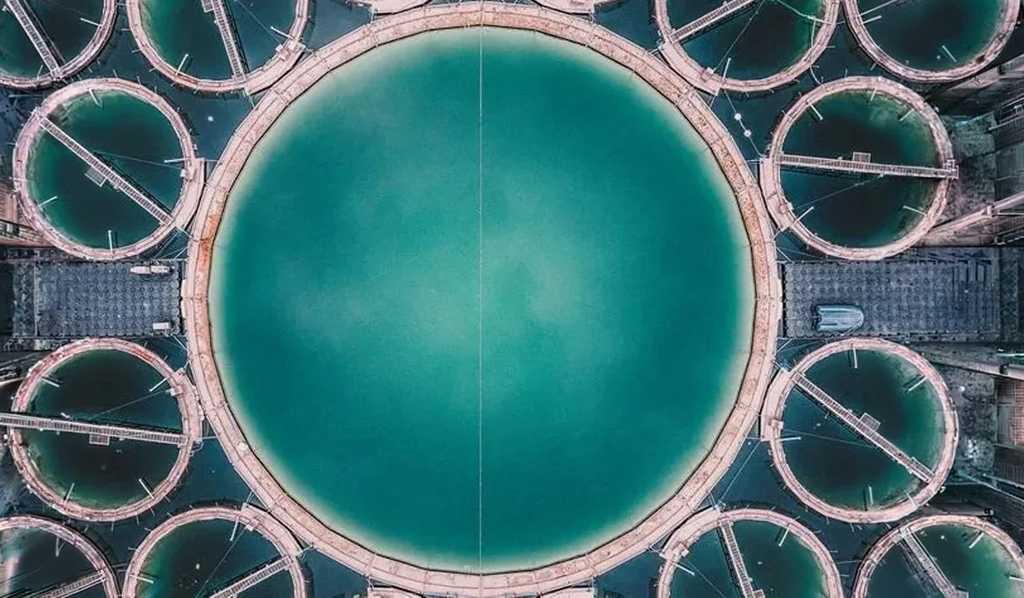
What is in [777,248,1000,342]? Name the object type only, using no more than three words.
pier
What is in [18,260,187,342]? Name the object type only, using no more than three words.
pier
